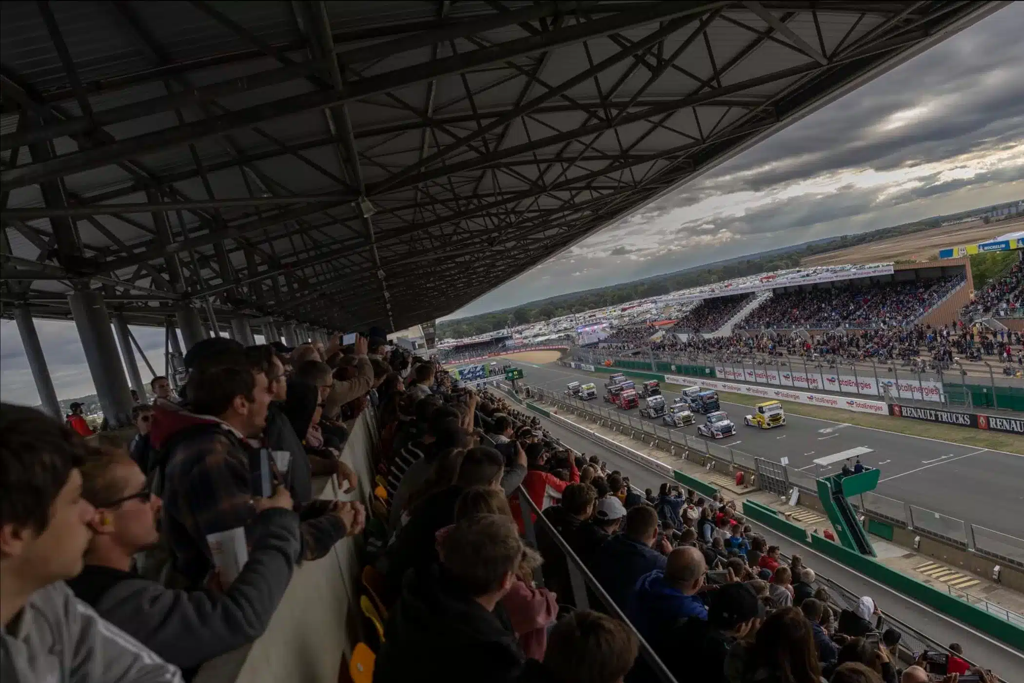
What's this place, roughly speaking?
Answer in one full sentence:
It's a sports ground.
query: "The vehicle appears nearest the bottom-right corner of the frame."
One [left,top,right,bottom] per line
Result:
[738,398,783,428]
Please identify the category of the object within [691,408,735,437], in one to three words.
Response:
truck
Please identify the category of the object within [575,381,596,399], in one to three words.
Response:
vehicle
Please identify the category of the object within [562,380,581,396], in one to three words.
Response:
vehicle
